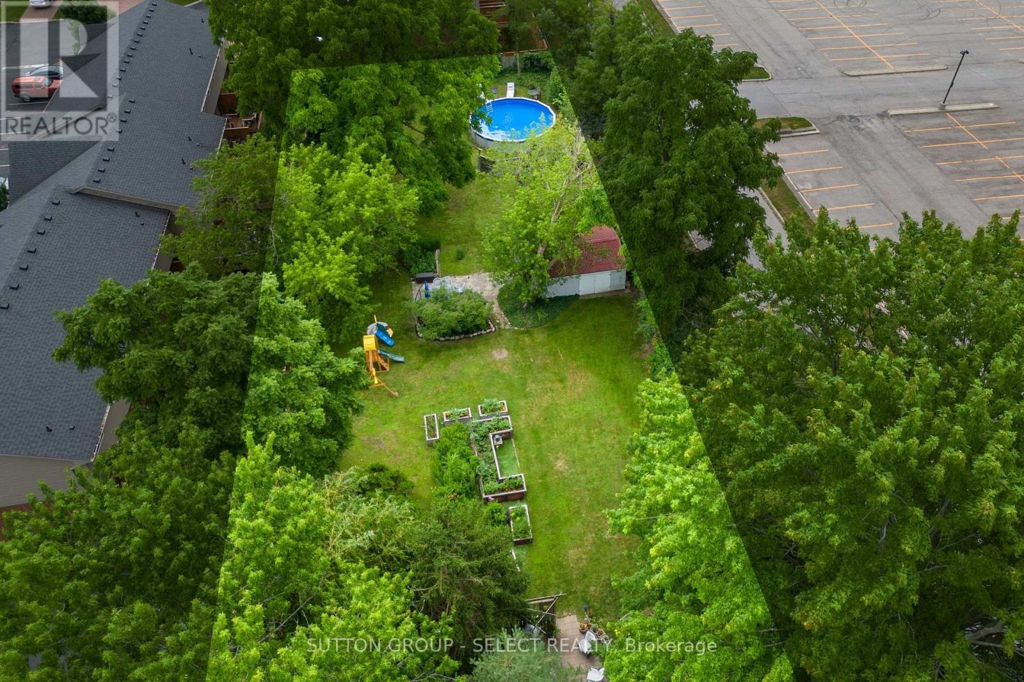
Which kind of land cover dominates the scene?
trees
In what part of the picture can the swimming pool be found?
top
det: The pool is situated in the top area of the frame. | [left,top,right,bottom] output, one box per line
[467,99,559,157]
